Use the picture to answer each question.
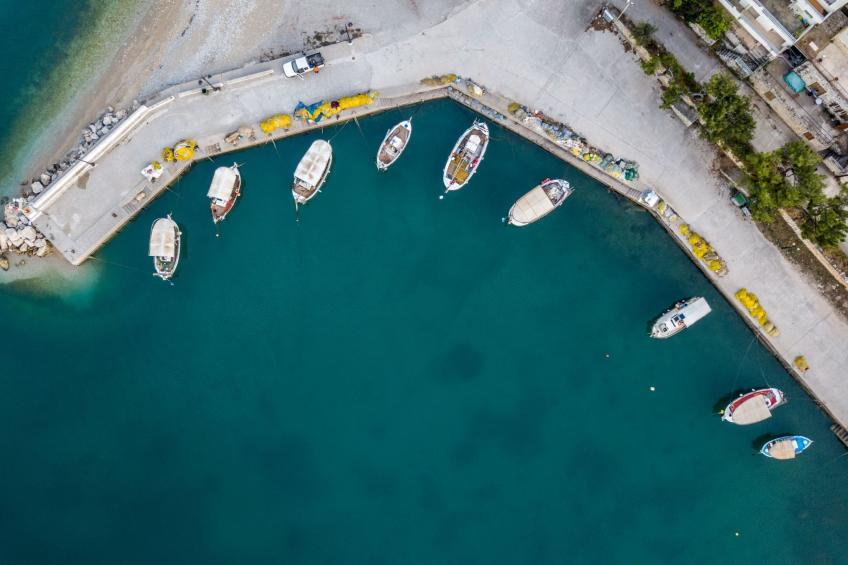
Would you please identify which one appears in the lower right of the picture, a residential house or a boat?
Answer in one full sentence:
Visible in the lower right of the picture is a boat.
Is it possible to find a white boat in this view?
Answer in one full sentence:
Yes, I can see a white boat in this picture.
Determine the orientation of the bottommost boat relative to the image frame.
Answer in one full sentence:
The bottommost boat is laid out horizontally.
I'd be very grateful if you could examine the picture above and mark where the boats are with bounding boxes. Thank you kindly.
[719,388,786,425]
[443,118,487,191]
[378,116,412,171]
[150,211,184,280]
[293,138,332,213]
[502,184,575,225]
[207,162,245,227]
[648,295,711,340]
[758,435,816,459]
